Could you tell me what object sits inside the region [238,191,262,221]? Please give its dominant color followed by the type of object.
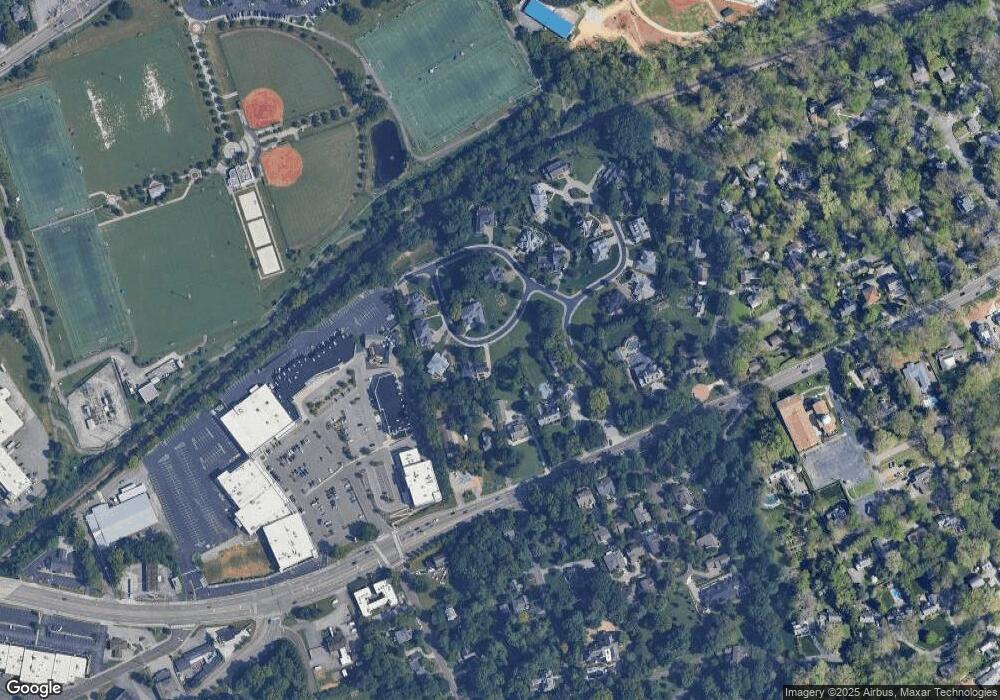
white sports court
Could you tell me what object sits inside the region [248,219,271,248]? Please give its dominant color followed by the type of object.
white sports court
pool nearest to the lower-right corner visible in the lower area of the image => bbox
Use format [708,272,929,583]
[891,585,905,607]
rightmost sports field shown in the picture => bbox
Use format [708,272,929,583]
[356,0,540,156]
